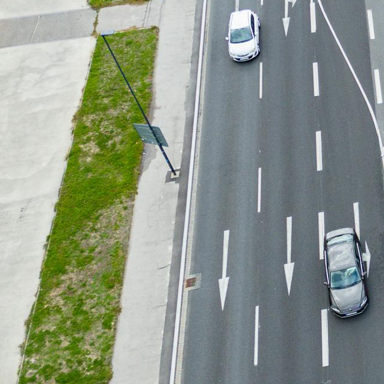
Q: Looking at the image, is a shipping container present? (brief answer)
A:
No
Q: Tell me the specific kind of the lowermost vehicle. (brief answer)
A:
automobile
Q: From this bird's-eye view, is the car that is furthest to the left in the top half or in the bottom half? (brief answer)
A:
top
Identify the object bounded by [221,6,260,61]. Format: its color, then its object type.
white car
